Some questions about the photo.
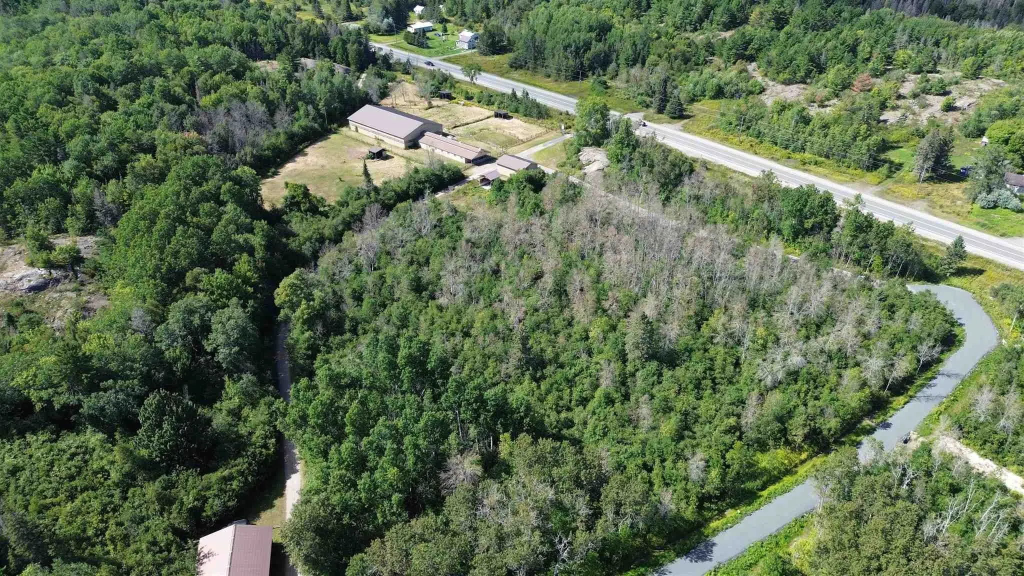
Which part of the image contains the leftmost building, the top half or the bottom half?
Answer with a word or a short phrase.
bottom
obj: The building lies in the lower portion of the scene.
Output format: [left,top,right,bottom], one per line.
[192,519,275,576]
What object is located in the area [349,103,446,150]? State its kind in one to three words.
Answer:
barn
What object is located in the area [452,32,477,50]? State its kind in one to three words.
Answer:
house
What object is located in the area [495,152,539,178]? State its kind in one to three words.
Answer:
building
